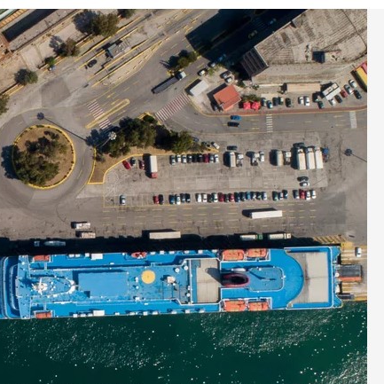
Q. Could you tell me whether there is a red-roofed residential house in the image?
Yes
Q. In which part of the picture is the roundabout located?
left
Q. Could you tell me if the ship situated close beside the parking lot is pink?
No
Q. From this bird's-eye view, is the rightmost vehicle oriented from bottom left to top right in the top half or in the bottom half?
top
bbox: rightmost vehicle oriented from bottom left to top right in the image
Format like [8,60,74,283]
[320,80,344,100]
